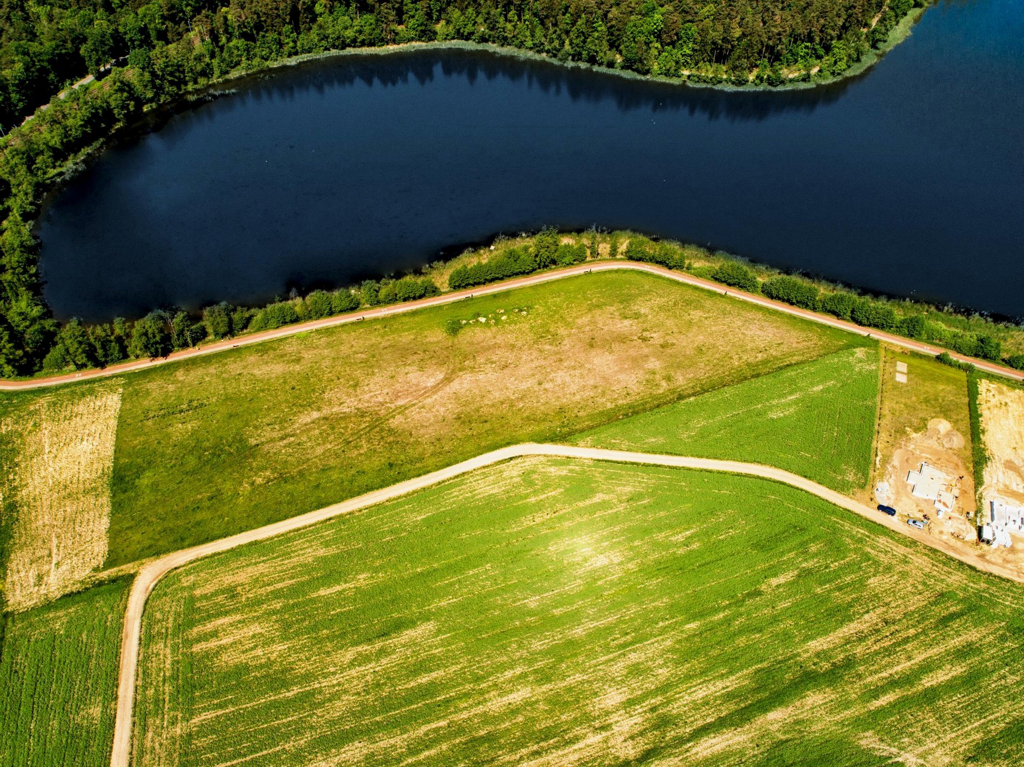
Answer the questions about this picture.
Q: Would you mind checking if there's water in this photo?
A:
Yes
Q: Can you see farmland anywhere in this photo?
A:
Yes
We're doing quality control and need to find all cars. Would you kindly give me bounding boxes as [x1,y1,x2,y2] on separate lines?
[905,517,926,531]
[876,504,898,517]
